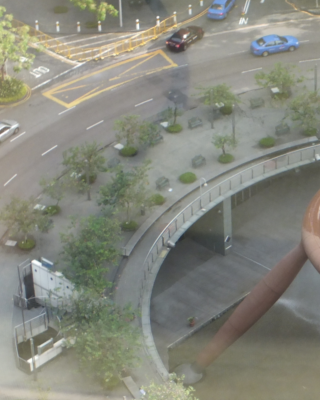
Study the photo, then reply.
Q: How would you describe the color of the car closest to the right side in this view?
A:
blue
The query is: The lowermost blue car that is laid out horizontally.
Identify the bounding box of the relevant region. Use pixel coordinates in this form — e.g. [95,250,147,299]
[250,33,300,57]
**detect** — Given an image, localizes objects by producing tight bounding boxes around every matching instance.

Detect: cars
[250,33,300,57]
[165,25,205,51]
[206,0,236,18]
[0,118,20,143]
